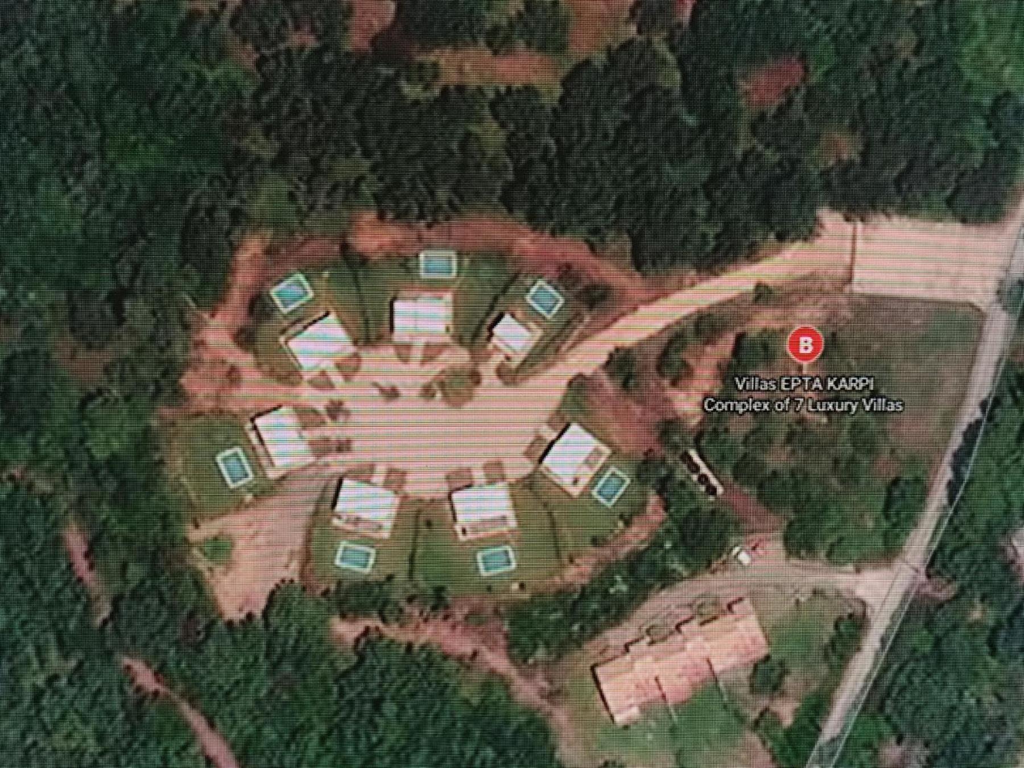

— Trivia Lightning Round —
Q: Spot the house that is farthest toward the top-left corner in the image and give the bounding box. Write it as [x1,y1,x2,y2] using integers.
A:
[283,305,356,376]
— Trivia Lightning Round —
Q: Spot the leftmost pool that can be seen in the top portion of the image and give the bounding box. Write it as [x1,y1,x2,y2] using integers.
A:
[270,273,313,314]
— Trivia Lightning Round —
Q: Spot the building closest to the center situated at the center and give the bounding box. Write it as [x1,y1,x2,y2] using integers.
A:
[488,302,544,360]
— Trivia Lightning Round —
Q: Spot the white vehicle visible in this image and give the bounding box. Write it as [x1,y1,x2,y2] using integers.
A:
[730,544,753,568]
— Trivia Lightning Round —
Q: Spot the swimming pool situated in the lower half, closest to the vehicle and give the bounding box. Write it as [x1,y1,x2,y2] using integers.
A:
[591,466,632,508]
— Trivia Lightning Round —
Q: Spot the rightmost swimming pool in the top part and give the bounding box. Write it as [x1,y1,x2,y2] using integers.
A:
[525,279,565,319]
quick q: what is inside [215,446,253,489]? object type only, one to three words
swimming pool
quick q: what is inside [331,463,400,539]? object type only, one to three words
house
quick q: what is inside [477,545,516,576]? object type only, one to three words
swimming pool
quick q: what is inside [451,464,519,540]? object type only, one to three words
house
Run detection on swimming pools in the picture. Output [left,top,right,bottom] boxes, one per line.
[420,251,456,279]
[525,279,565,319]
[477,545,516,576]
[270,273,313,314]
[215,446,253,489]
[591,466,632,508]
[335,540,376,573]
